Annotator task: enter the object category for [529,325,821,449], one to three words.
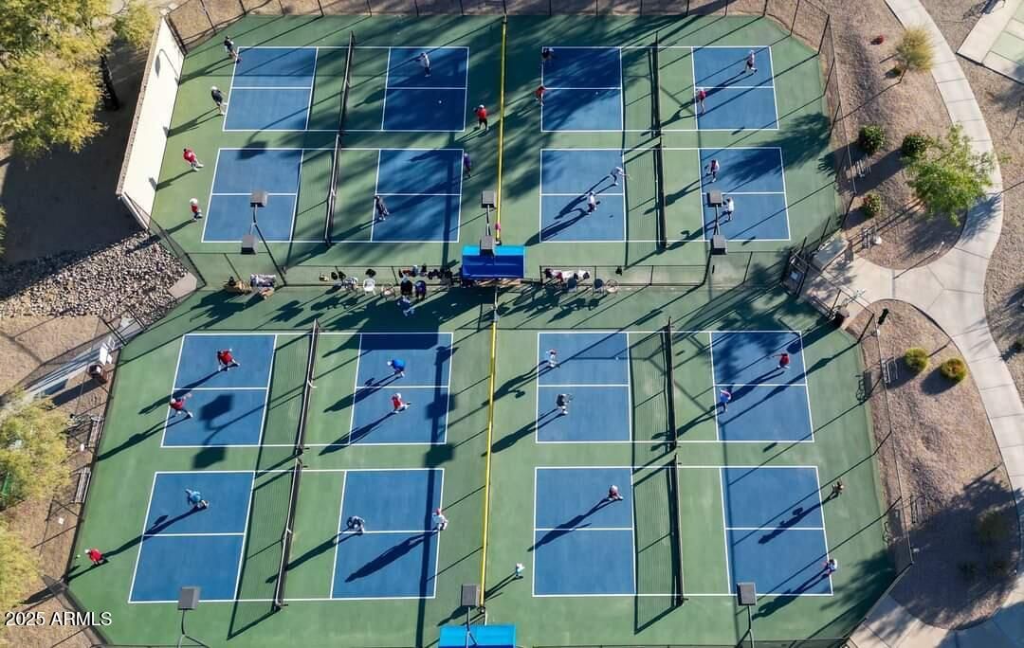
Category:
sports court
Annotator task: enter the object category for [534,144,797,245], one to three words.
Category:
sports court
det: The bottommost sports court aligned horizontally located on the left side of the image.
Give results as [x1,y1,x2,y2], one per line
[123,463,450,609]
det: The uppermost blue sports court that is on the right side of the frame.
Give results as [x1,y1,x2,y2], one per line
[536,44,784,134]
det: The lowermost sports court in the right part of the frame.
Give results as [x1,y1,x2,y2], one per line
[526,460,838,604]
